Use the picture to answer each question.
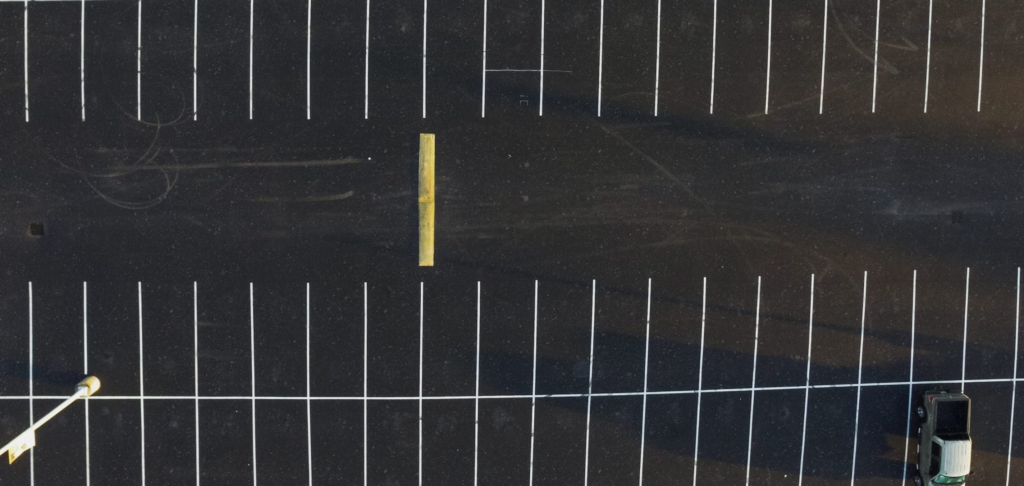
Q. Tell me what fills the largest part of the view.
paved ground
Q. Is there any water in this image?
No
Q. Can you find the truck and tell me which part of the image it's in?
bottom right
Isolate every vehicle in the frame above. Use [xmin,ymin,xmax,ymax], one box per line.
[914,385,974,486]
